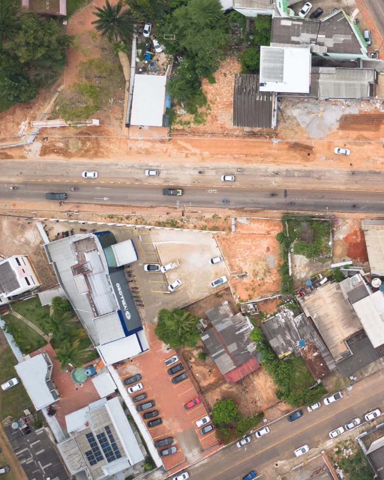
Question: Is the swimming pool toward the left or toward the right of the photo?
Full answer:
The swimming pool appears in the left half of the scene.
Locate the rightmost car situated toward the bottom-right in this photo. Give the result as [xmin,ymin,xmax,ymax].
[364,409,381,421]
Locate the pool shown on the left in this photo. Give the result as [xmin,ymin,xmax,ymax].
[67,363,97,384]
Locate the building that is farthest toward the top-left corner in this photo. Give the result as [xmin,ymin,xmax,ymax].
[130,74,174,127]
